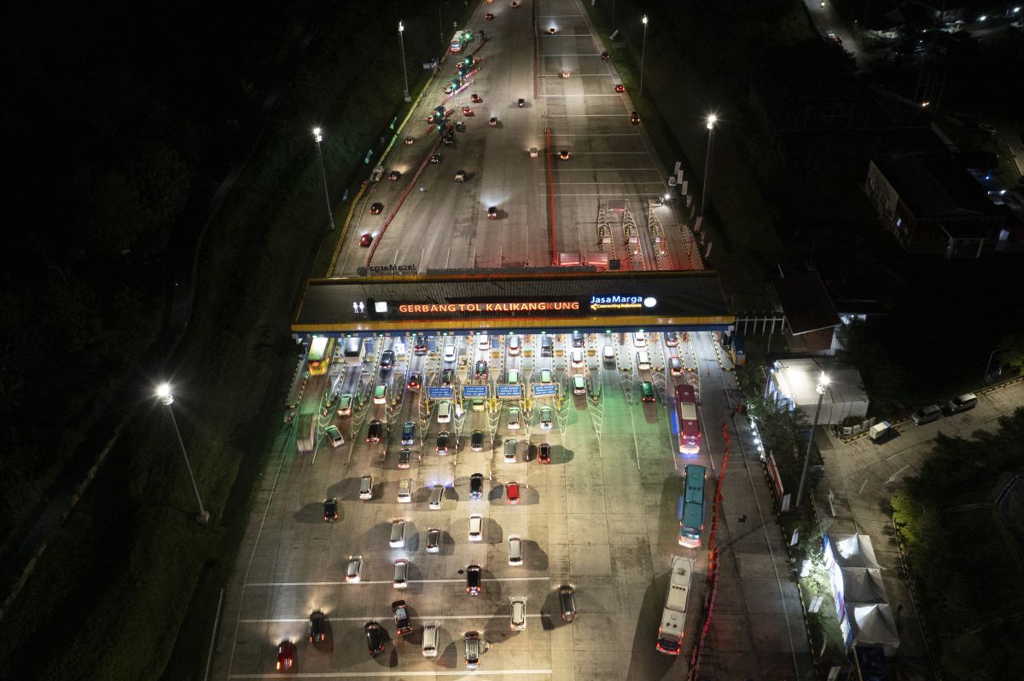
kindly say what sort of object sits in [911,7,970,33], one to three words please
house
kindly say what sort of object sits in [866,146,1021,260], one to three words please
building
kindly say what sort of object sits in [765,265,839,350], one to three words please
house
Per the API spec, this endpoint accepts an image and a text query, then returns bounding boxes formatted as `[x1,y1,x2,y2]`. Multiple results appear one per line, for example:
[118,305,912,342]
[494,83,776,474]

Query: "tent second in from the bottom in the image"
[837,565,892,612]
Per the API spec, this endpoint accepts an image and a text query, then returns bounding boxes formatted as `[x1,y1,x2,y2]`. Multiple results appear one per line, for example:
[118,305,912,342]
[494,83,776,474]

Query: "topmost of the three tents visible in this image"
[831,532,882,567]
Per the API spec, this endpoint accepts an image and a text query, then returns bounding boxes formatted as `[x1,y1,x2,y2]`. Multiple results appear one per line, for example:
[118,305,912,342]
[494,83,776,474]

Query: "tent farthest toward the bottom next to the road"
[842,601,902,654]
